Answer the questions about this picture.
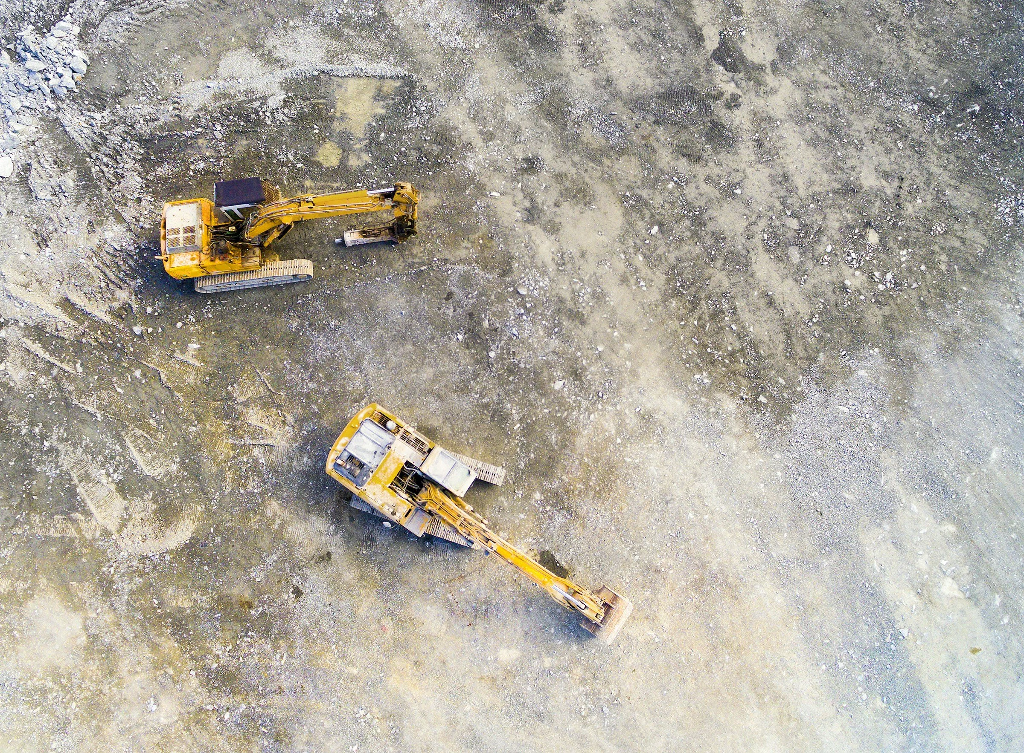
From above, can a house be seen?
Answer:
No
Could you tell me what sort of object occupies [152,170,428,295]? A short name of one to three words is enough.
work vehicle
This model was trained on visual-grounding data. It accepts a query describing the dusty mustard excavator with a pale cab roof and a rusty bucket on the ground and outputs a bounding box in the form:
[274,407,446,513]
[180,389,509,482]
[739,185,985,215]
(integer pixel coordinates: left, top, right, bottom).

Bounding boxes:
[327,405,634,644]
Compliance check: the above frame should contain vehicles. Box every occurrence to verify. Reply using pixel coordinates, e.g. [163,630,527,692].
[152,170,428,295]
[327,405,634,644]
